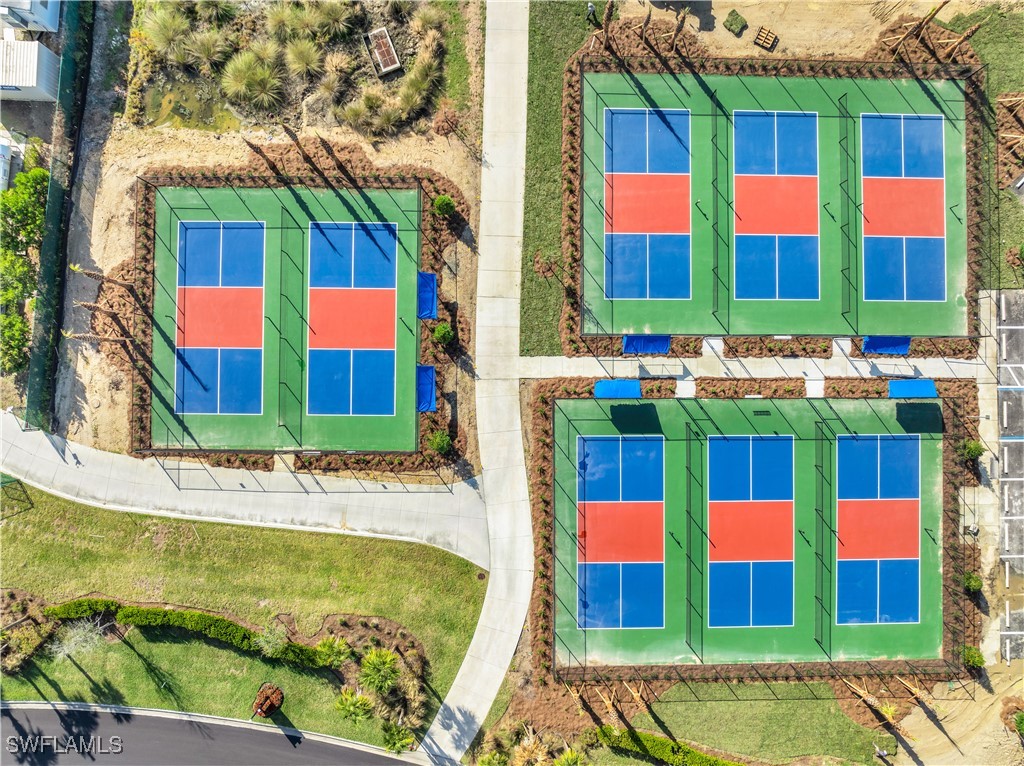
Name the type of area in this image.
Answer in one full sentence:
This image shows a sports ground.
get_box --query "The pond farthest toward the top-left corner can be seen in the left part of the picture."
[139,74,246,134]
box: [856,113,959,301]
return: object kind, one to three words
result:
sports court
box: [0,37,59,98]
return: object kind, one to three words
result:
shed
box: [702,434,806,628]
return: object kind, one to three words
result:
sports court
